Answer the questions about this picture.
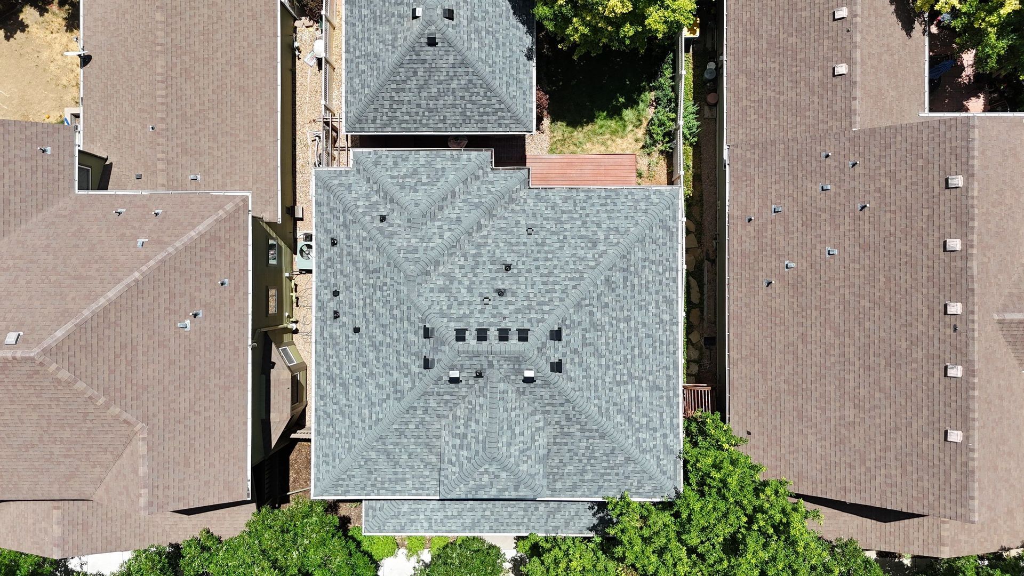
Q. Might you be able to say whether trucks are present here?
No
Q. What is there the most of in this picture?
buildings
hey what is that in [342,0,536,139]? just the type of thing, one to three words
building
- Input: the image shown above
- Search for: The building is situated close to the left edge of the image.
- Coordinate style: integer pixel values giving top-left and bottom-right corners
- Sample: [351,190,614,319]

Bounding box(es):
[0,0,307,558]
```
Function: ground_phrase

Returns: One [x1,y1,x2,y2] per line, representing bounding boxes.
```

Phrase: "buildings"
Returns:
[712,0,1024,558]
[342,0,536,139]
[0,0,307,558]
[311,148,685,537]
